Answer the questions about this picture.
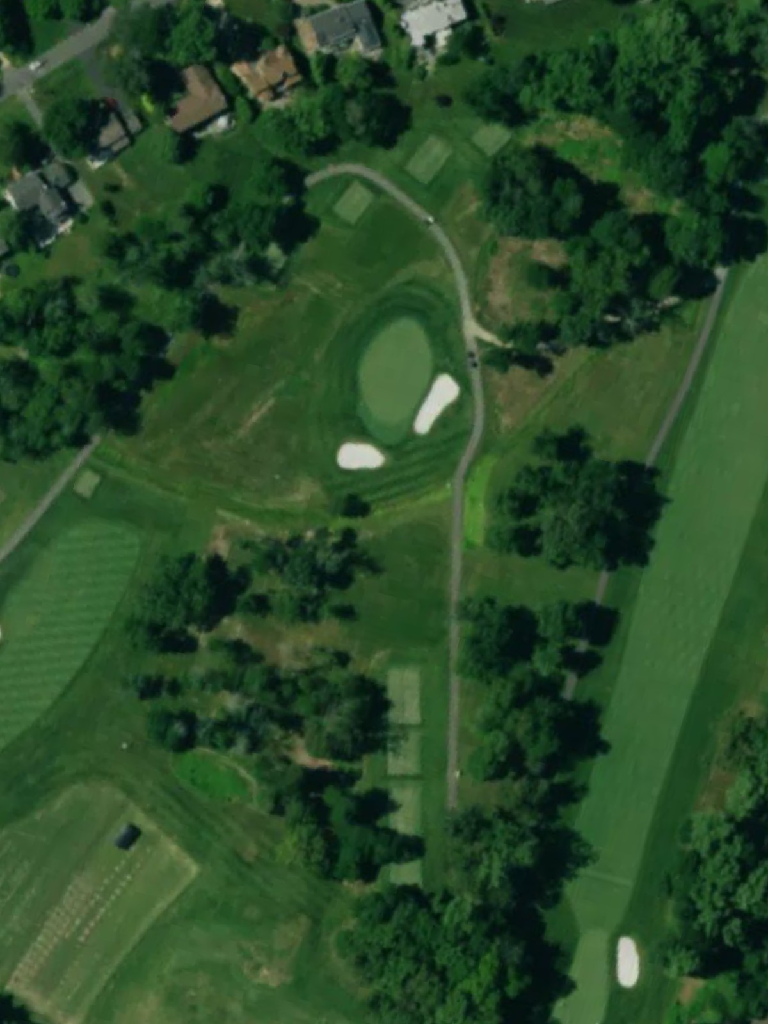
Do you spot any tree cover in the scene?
Yes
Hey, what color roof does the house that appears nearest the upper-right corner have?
white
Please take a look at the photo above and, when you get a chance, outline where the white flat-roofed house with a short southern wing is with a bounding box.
[400,0,470,45]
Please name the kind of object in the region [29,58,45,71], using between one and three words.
vehicle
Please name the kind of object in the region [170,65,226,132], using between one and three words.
house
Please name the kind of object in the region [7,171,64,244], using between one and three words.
house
